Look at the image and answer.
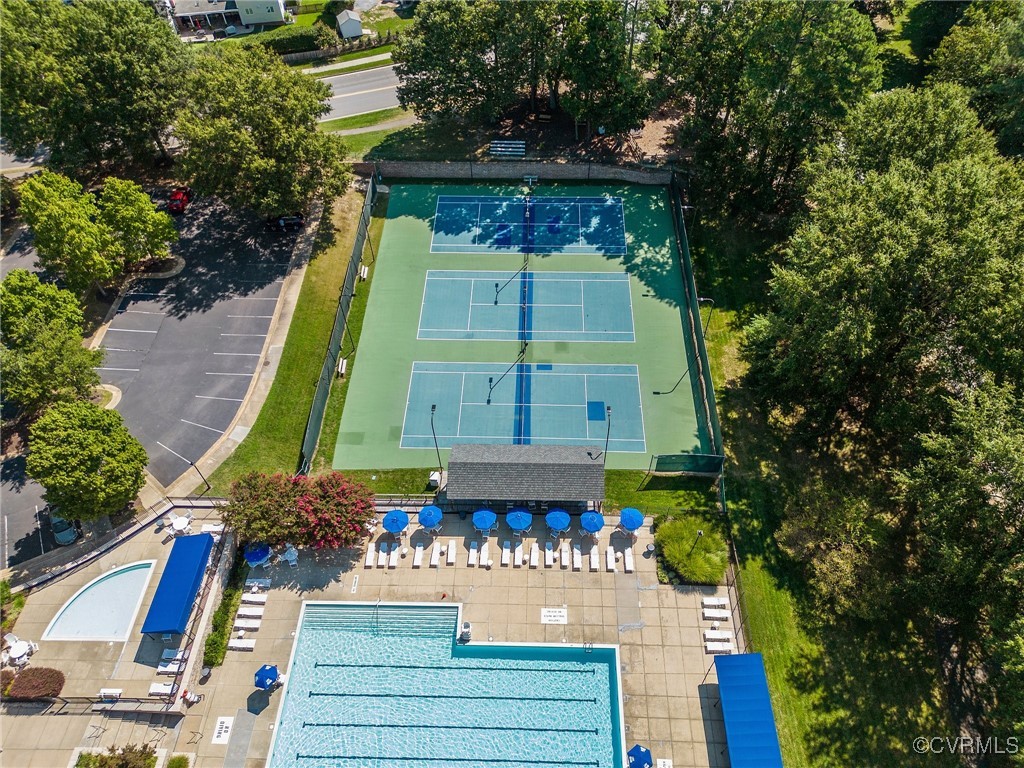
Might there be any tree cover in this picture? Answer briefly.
Yes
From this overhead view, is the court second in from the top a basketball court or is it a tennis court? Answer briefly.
tennis court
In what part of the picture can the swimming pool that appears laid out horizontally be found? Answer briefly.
bottom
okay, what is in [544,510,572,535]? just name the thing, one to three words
umbrella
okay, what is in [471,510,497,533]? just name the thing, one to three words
umbrella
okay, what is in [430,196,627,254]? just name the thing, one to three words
tennis court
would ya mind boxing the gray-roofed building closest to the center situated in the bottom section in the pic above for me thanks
[444,445,605,514]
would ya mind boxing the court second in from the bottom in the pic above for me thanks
[417,270,636,342]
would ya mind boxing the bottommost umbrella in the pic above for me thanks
[626,744,655,768]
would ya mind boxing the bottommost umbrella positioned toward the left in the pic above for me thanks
[252,664,280,692]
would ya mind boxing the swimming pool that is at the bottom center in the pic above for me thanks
[265,599,627,768]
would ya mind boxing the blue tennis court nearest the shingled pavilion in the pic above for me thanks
[400,361,646,452]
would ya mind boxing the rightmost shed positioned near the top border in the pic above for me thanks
[340,5,366,38]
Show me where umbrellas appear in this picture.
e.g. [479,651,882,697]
[252,664,280,692]
[626,744,655,768]
[380,511,408,536]
[544,510,572,535]
[242,544,271,569]
[471,510,497,533]
[504,511,530,535]
[416,508,442,533]
[578,512,605,537]
[618,511,645,536]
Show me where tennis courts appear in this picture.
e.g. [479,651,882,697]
[417,270,636,342]
[430,196,627,254]
[400,361,646,452]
